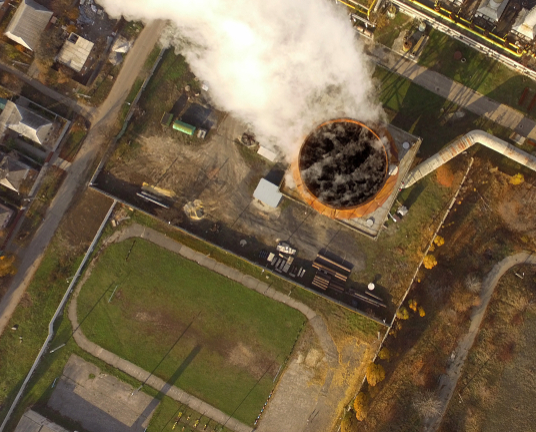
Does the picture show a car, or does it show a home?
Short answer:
home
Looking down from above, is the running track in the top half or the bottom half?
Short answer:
bottom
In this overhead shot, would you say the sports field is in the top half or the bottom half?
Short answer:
bottom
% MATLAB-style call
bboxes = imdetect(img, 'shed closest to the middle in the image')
[256,181,280,205]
